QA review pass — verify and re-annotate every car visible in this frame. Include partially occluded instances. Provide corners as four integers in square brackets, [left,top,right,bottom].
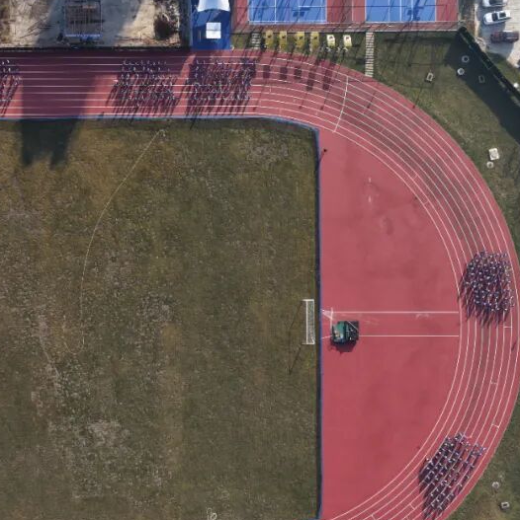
[490,28,519,43]
[484,9,511,24]
[481,0,509,7]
